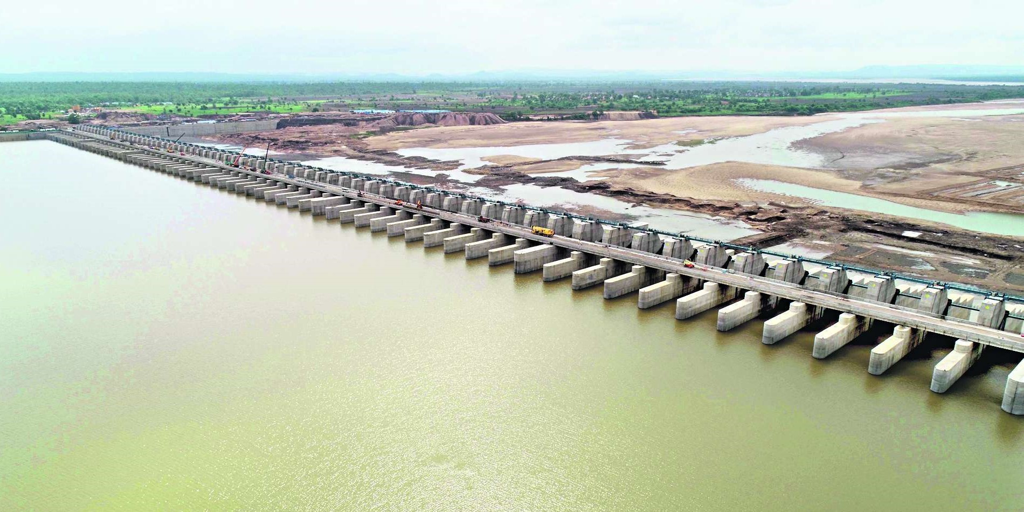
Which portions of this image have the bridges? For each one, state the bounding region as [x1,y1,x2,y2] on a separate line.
[64,129,1024,352]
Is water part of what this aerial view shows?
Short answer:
Yes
